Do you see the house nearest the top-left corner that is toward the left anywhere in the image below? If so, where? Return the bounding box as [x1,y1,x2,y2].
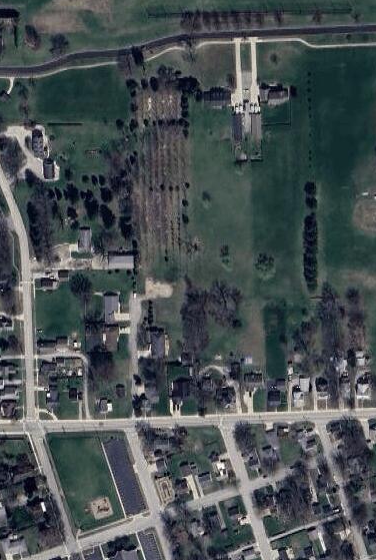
[31,129,46,157]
